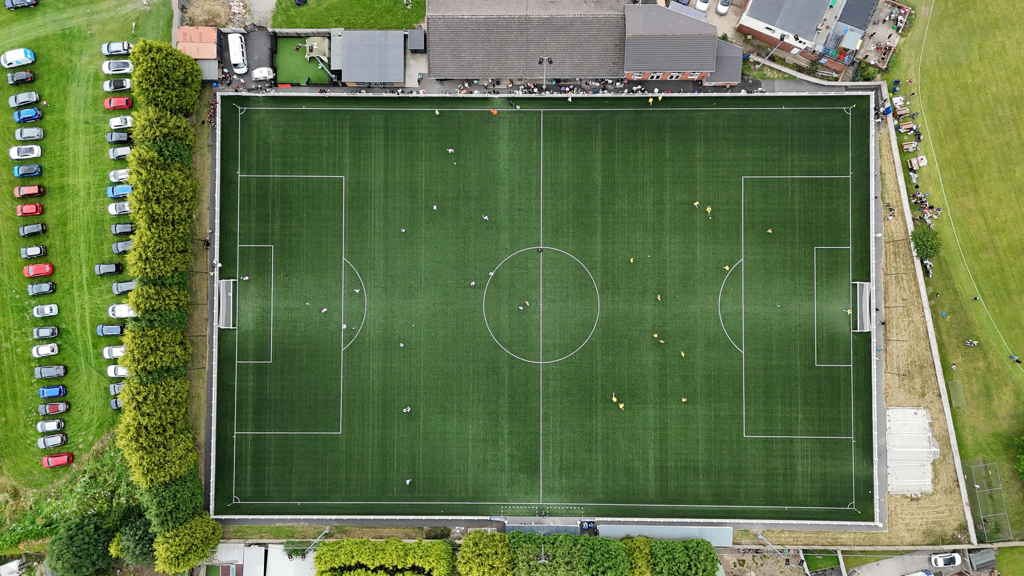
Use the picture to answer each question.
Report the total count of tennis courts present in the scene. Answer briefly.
0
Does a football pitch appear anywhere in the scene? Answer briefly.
Yes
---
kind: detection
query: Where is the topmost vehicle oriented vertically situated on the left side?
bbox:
[227,33,250,76]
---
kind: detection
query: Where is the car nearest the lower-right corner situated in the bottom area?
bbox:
[929,553,961,568]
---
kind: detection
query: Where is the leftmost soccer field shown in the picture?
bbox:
[215,95,875,522]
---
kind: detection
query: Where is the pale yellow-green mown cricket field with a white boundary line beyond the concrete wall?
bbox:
[885,0,1024,544]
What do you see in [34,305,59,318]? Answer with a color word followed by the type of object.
white vehicle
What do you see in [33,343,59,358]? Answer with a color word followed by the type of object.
white car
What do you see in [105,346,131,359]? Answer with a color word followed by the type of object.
white vehicle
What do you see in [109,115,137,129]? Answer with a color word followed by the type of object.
white car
